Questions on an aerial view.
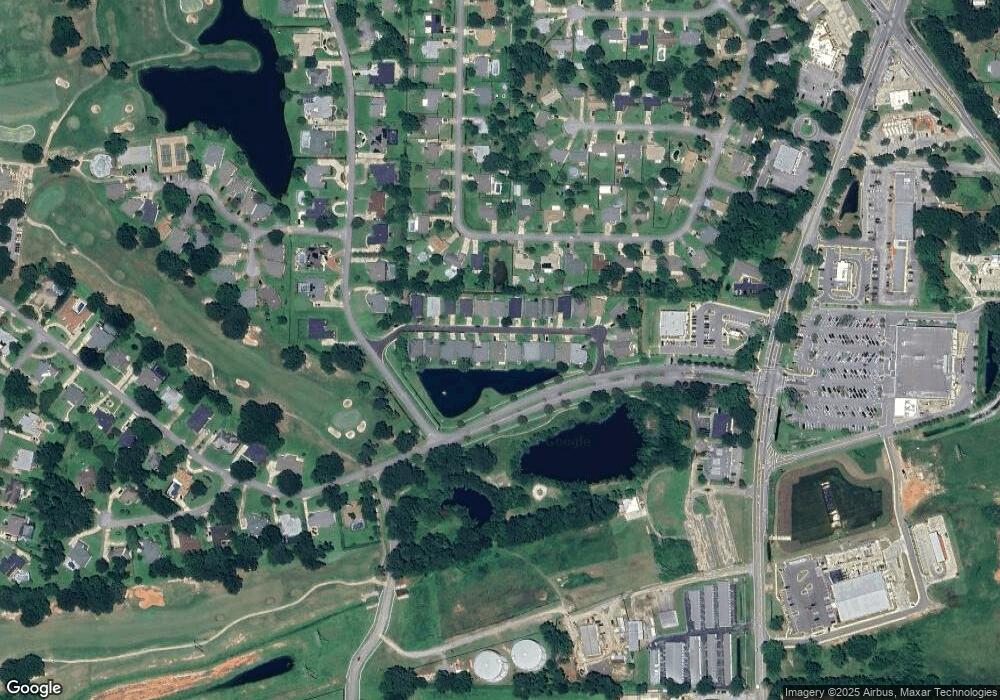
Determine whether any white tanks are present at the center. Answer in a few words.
No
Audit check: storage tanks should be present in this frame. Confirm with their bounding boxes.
[474,651,507,679]
[511,639,547,671]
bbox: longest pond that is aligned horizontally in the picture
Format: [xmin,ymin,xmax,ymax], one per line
[419,368,560,418]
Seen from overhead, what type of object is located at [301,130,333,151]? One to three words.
house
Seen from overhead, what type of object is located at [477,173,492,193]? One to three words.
house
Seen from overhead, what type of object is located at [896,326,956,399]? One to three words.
building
